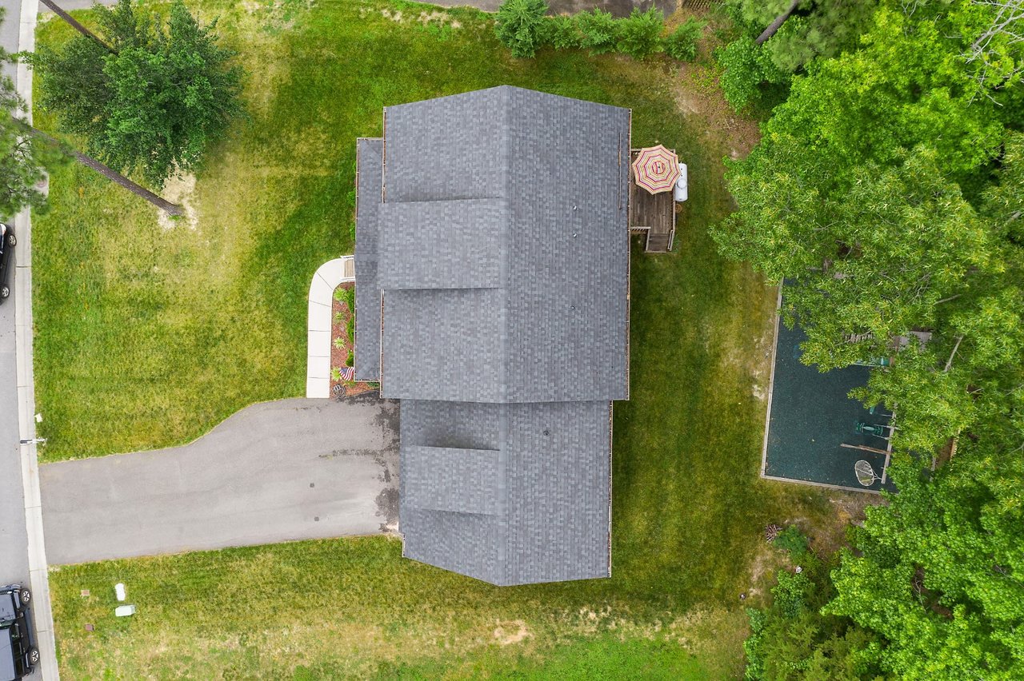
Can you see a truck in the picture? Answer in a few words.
No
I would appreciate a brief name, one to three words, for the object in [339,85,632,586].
house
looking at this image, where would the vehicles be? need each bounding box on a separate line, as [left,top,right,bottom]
[0,220,20,310]
[0,580,42,681]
